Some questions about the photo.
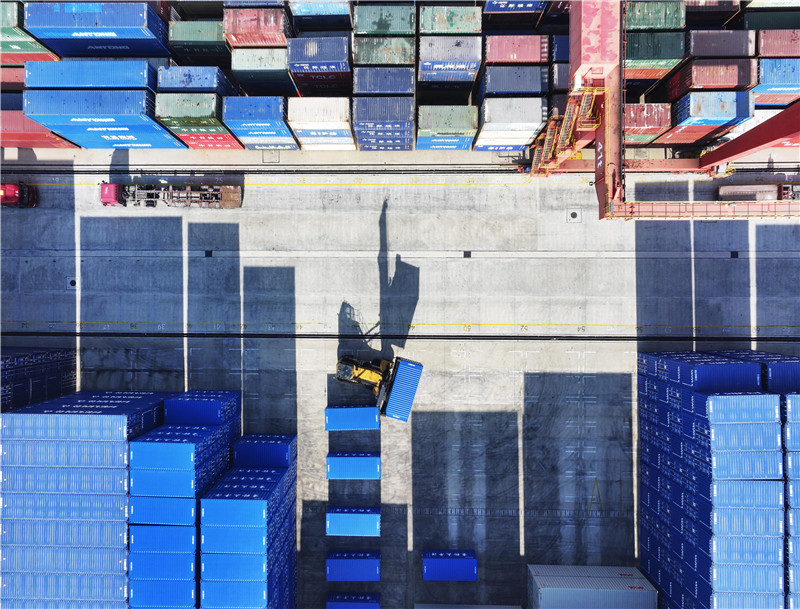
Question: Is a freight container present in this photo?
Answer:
Yes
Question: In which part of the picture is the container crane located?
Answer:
top right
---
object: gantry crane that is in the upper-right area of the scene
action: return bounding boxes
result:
[498,0,800,222]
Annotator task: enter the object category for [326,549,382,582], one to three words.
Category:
shipping container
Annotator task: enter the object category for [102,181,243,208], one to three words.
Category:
truck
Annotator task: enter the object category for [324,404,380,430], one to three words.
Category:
shipping container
